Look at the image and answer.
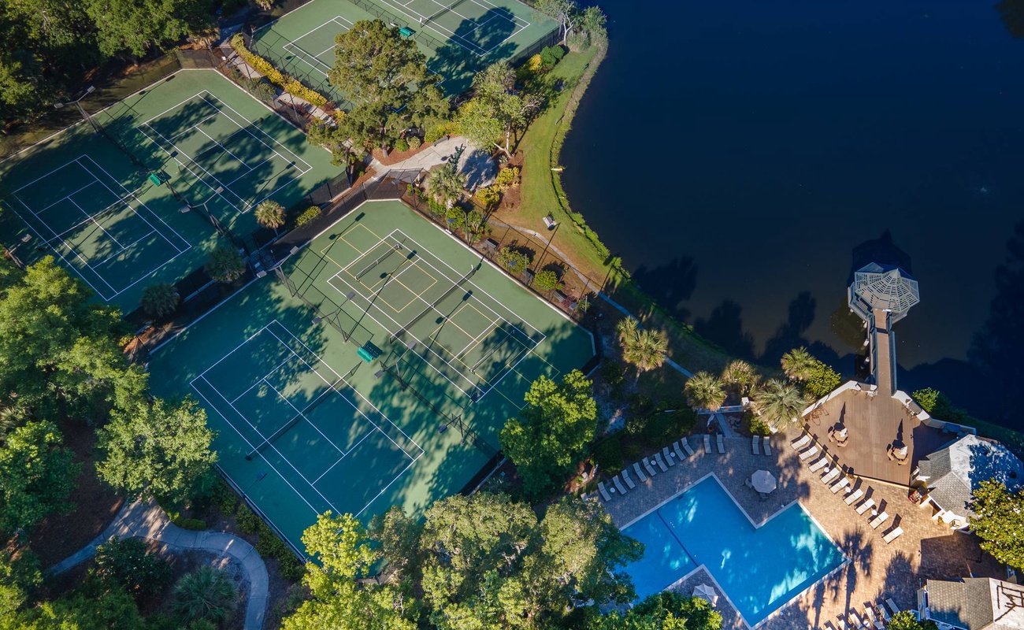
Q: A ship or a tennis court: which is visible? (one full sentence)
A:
There is a tennis court in the scene.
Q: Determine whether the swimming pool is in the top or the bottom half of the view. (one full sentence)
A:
It is in the bottom half that the swimming pool appears.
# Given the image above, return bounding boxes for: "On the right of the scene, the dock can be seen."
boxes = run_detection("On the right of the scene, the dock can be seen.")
[869,311,899,399]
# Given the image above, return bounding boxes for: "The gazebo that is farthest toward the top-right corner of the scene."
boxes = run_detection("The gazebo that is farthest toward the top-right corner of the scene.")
[838,261,920,333]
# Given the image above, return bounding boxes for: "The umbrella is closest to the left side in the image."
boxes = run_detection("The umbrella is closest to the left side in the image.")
[691,578,721,610]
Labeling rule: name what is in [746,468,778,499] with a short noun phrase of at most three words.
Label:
umbrella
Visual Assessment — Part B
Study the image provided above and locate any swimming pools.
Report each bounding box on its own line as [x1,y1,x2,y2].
[614,468,860,630]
